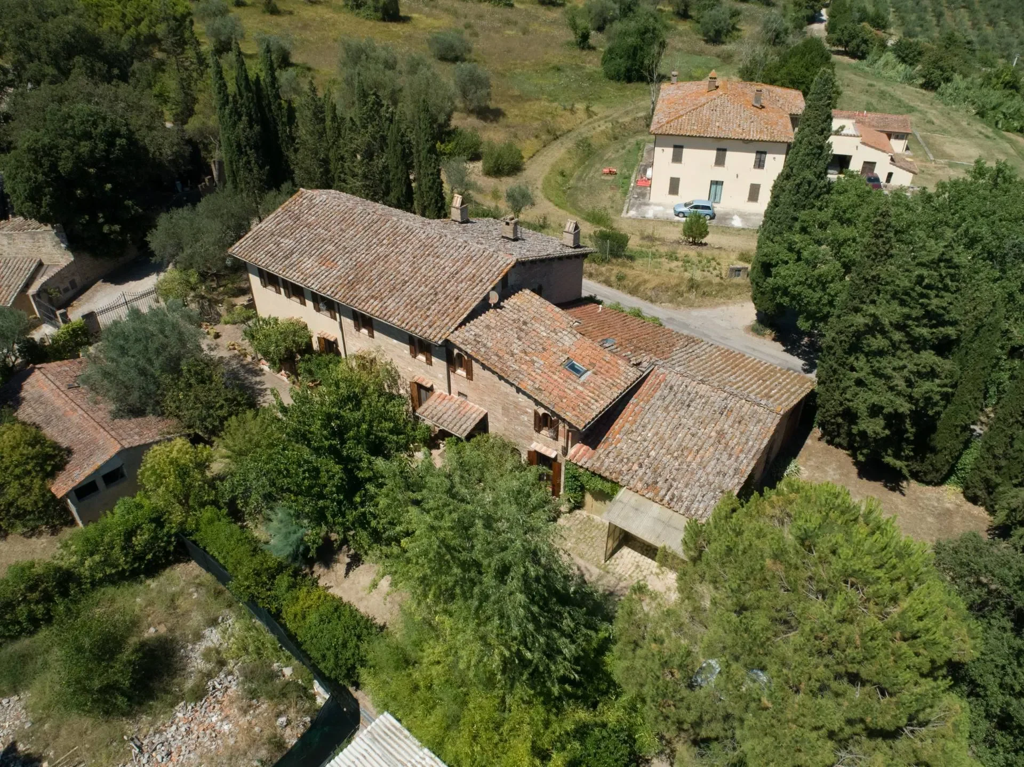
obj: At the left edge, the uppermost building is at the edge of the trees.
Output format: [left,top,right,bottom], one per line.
[0,211,90,330]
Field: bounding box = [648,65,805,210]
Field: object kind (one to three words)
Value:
house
